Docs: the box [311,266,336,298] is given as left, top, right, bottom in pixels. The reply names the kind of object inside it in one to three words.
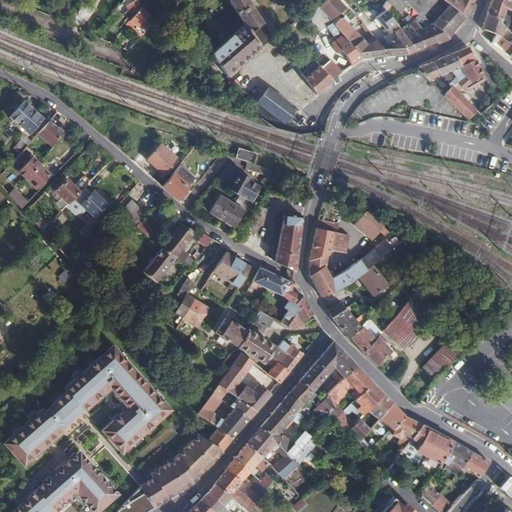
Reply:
house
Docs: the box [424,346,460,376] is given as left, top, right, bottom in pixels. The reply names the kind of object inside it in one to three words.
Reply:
barn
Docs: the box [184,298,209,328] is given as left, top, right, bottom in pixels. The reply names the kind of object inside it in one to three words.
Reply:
house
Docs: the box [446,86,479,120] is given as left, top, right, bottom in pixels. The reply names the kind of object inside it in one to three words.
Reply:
building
